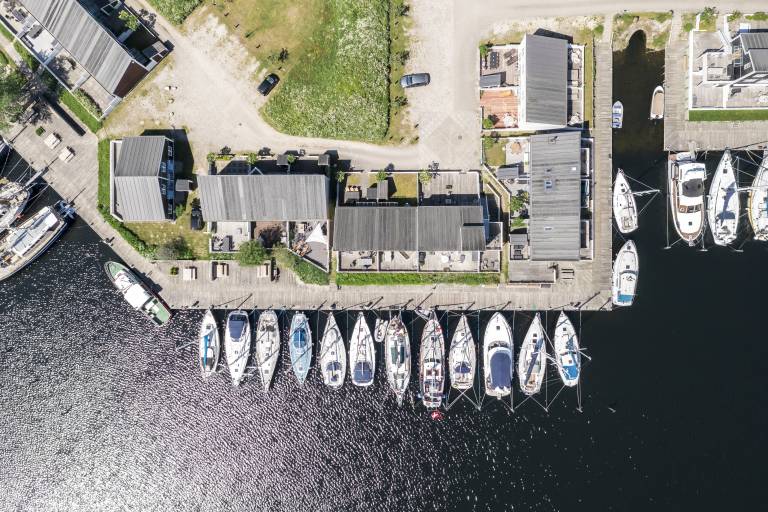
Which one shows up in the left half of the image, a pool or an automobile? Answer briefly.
automobile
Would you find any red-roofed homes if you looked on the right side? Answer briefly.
No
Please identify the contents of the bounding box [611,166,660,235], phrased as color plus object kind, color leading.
white boat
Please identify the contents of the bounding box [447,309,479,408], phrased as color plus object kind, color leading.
white boat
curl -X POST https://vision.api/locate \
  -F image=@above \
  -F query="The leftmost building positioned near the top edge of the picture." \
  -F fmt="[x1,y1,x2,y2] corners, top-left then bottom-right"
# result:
[16,0,148,98]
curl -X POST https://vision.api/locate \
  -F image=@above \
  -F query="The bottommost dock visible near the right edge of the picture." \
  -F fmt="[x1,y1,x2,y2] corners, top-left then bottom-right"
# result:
[661,121,768,152]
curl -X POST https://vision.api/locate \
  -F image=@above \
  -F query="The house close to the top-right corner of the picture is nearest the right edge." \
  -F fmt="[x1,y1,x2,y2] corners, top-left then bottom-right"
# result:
[731,31,768,84]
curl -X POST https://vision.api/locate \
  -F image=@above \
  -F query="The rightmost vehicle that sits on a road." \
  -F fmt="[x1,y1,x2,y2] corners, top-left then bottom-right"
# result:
[400,71,430,87]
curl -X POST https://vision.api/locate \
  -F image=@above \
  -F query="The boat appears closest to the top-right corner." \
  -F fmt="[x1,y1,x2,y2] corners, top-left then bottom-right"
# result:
[648,88,664,122]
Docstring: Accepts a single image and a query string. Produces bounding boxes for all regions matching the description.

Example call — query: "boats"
[374,310,387,343]
[742,151,768,244]
[381,309,412,408]
[348,309,380,403]
[480,309,513,408]
[611,166,660,235]
[668,145,706,249]
[0,164,52,233]
[0,140,14,160]
[318,309,347,402]
[548,309,599,409]
[648,88,664,122]
[514,309,565,409]
[95,233,174,327]
[703,150,768,249]
[447,309,479,408]
[0,192,77,277]
[286,309,316,401]
[209,310,254,400]
[244,310,284,400]
[178,309,225,397]
[606,232,640,307]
